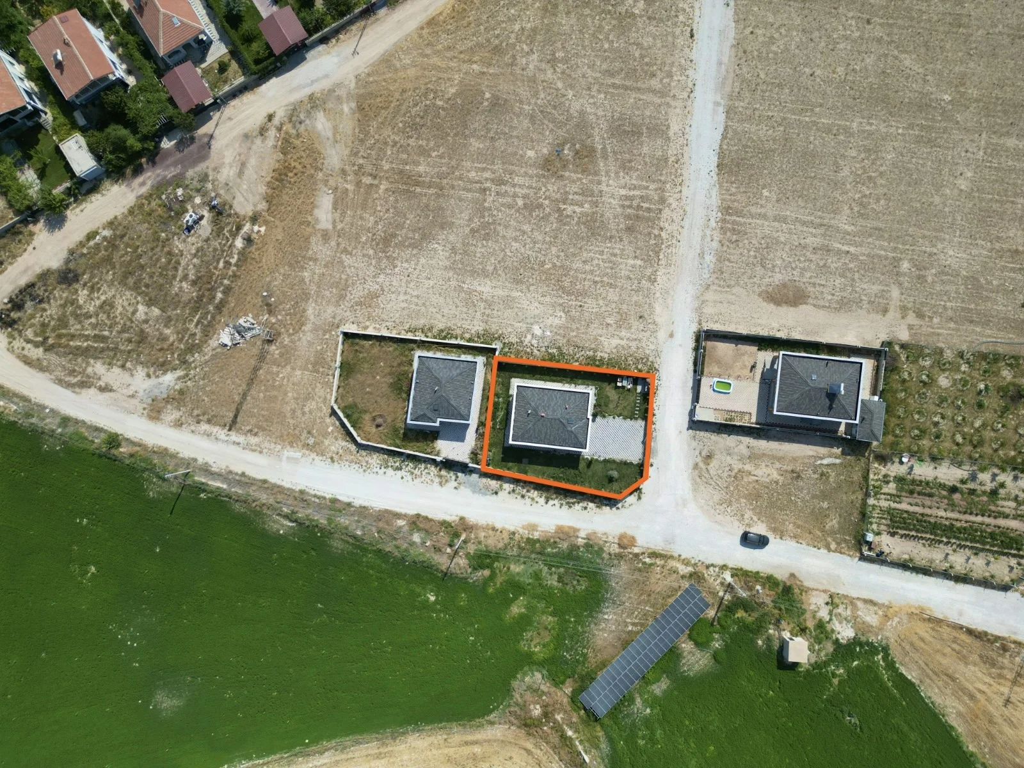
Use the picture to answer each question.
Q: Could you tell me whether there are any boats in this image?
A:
No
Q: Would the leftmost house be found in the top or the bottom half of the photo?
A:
top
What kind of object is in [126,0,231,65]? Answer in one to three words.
house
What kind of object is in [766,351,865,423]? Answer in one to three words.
house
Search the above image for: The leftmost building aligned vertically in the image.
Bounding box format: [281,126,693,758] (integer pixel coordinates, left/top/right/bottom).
[0,44,43,137]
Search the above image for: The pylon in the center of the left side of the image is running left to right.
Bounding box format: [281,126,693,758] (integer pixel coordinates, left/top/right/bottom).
[224,329,276,343]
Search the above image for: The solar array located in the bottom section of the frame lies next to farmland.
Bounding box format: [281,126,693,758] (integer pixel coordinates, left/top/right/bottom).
[579,583,712,719]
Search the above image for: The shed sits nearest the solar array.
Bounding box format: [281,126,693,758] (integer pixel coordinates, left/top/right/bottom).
[783,636,813,663]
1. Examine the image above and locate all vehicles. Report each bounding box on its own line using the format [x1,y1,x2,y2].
[740,533,769,550]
